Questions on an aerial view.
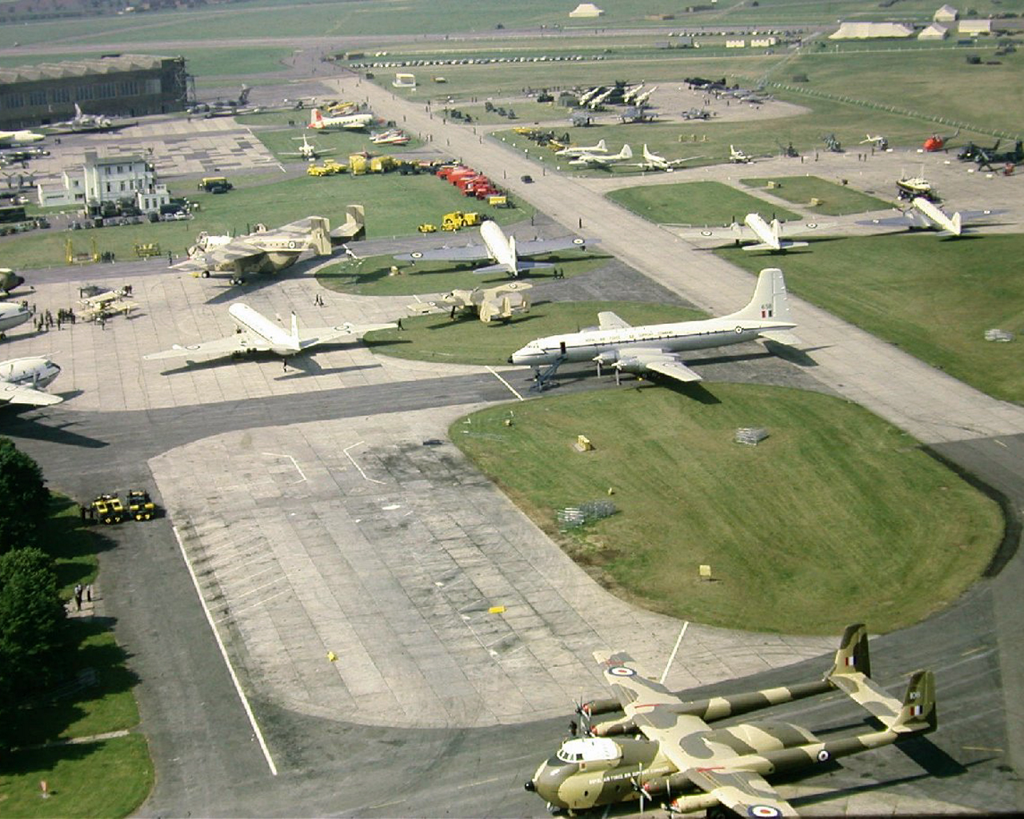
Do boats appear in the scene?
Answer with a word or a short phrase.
Yes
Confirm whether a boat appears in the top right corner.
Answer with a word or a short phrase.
Yes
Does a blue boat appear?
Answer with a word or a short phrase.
No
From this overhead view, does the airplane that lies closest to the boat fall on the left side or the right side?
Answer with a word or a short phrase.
right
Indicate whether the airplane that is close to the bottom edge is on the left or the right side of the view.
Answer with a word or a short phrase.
right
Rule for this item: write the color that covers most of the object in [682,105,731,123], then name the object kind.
gray airplane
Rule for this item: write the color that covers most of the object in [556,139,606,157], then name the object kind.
white airplane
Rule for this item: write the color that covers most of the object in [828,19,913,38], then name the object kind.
white tent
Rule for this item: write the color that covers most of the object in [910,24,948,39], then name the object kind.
white tent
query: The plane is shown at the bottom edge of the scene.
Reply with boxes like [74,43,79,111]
[524,624,945,819]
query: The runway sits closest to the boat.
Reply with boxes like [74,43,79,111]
[0,16,1024,61]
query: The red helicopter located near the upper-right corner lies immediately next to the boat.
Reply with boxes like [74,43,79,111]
[921,130,968,152]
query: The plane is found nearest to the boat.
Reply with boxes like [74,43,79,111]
[853,201,1008,243]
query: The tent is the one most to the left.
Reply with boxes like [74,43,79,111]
[565,3,604,17]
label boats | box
[894,164,940,200]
